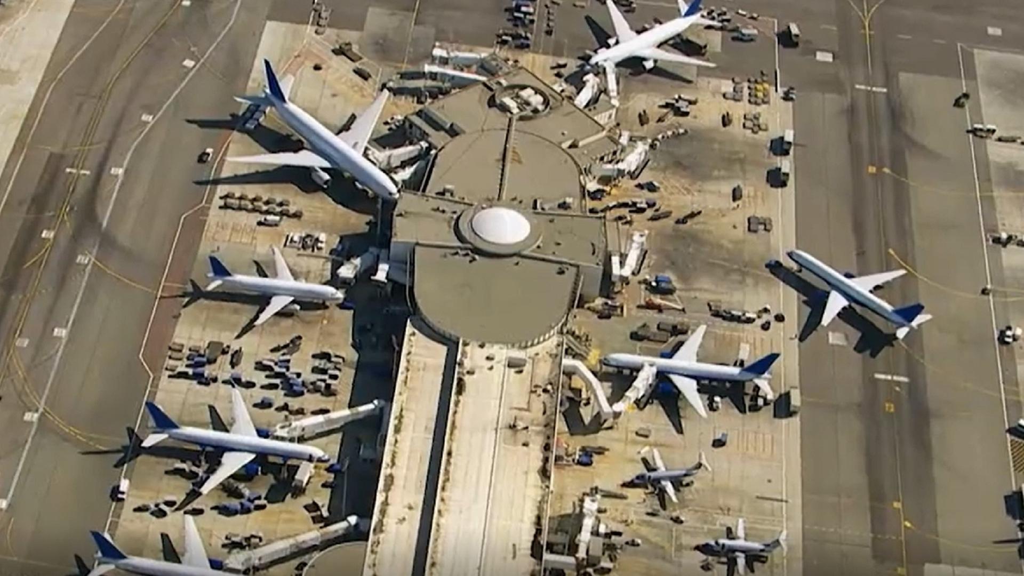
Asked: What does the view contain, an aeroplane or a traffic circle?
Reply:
aeroplane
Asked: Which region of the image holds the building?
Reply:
center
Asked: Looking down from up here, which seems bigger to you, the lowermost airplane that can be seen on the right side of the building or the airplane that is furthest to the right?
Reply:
the airplane that is furthest to the right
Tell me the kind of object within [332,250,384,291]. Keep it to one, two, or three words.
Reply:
jet bridge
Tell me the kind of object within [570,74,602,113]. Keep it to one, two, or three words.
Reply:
jet bridge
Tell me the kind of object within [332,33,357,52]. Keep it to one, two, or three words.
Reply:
vehicle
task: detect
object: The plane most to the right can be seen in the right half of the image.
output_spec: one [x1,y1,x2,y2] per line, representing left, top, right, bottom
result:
[788,250,946,327]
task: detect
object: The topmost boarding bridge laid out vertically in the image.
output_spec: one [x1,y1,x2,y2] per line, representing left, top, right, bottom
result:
[600,62,621,124]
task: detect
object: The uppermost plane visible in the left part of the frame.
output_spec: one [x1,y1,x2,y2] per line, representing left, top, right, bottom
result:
[216,66,399,200]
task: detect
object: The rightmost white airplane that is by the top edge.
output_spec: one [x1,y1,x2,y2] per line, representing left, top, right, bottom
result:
[588,0,737,71]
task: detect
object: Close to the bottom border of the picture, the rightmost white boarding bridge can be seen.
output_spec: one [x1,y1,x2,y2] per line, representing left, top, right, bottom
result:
[545,492,601,576]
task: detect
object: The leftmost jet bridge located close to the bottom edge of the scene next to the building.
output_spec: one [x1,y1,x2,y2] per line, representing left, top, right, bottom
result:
[228,514,364,576]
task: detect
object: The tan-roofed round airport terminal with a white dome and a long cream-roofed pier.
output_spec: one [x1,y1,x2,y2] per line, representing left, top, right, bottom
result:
[303,50,634,576]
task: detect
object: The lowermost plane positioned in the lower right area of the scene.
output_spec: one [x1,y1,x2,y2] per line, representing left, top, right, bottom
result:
[696,518,794,573]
